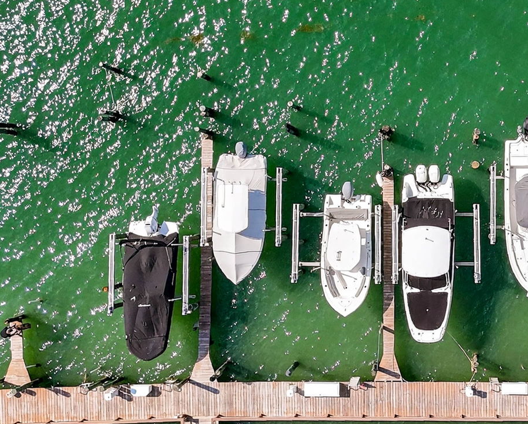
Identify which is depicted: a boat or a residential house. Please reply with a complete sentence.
It is a boat that can be seen here.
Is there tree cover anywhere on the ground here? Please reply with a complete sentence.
No, tree cover can't be seen anywhere here.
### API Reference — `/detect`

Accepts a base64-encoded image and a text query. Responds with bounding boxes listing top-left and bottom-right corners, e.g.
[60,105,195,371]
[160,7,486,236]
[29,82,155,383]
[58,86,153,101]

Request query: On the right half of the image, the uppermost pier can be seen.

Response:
[375,180,402,382]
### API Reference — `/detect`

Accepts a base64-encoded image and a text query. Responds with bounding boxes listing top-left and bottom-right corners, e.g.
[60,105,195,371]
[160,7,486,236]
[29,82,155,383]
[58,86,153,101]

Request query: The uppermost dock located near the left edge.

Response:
[5,335,34,388]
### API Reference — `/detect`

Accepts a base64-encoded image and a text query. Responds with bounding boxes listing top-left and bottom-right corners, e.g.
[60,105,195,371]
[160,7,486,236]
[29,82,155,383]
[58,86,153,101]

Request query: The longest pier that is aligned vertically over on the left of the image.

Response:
[191,139,219,383]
